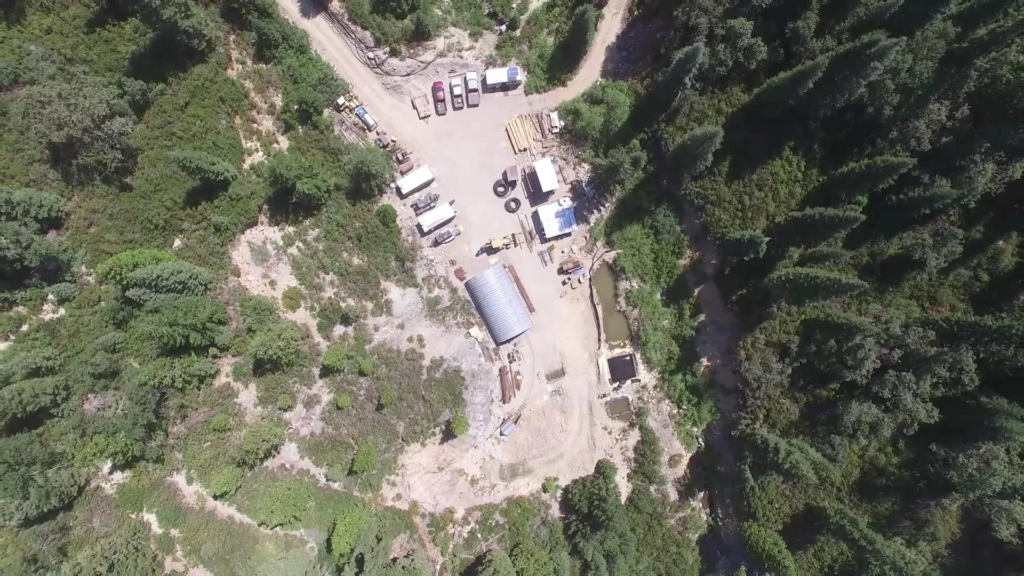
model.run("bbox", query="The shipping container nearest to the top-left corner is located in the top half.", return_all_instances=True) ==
[397,165,436,197]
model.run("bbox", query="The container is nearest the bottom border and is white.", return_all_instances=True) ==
[418,197,462,234]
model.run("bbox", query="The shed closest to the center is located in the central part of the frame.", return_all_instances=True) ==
[465,265,534,344]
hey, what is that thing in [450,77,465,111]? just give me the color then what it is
white vehicle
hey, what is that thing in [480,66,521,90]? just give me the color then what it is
white vehicle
